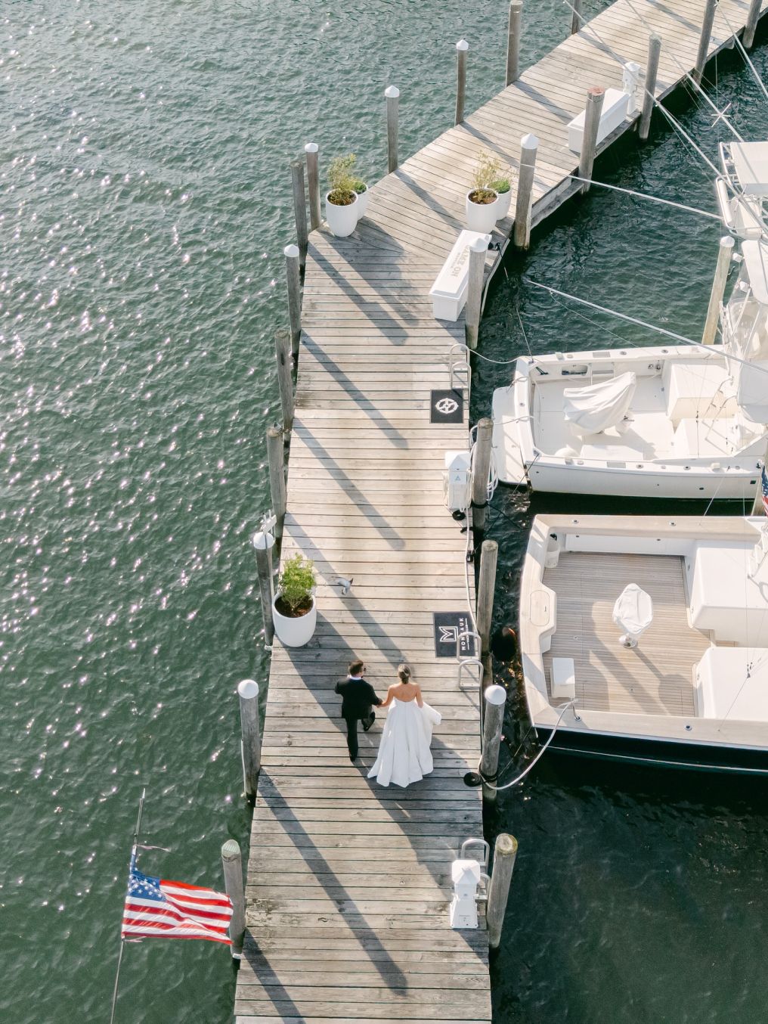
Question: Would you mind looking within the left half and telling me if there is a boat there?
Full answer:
No, no boat is visible within the left half.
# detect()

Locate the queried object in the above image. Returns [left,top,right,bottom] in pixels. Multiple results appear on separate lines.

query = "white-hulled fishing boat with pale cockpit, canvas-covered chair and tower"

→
[492,0,768,499]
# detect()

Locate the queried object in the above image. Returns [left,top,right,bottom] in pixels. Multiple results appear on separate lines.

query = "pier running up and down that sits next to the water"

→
[233,0,768,1024]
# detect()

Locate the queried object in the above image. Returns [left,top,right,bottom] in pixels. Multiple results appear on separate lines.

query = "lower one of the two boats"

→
[519,455,768,777]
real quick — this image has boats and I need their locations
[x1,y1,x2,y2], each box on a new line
[492,0,768,499]
[519,455,768,777]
